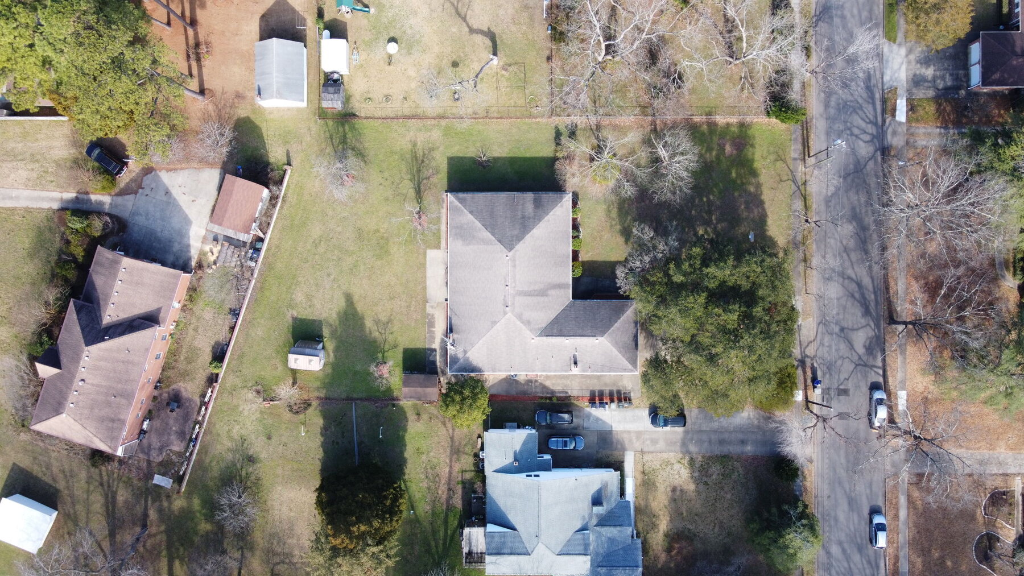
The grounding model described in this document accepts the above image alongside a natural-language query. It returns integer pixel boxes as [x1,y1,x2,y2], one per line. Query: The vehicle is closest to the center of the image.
[536,411,573,428]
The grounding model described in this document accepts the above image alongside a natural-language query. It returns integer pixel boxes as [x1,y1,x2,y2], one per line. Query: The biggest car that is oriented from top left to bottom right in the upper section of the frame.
[81,143,127,179]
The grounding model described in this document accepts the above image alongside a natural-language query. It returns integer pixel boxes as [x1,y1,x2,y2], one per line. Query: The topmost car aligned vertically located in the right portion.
[872,390,890,427]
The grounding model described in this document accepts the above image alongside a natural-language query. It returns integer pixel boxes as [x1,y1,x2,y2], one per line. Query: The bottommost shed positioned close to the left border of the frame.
[0,491,65,554]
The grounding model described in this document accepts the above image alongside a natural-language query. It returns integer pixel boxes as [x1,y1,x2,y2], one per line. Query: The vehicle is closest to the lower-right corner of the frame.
[871,514,890,550]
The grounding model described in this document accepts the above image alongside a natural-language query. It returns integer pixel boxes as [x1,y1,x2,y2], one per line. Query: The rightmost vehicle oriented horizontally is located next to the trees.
[651,413,688,430]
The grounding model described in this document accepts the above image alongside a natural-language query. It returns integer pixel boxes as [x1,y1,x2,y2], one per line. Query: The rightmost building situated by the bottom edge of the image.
[464,422,643,576]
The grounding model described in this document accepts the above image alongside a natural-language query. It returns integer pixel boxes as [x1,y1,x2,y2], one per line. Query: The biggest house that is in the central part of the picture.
[437,191,639,379]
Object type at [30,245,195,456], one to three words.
house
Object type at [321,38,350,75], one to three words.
shed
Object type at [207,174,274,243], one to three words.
shed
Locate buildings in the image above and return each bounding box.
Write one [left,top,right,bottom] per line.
[403,374,442,401]
[0,491,65,554]
[321,38,350,75]
[322,83,345,110]
[287,337,326,372]
[207,174,274,243]
[437,191,639,379]
[969,0,1024,90]
[464,422,643,576]
[254,38,309,107]
[30,245,195,456]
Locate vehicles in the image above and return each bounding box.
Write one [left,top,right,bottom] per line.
[871,514,890,550]
[651,413,688,430]
[872,390,890,427]
[536,411,573,428]
[548,436,584,453]
[81,143,127,179]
